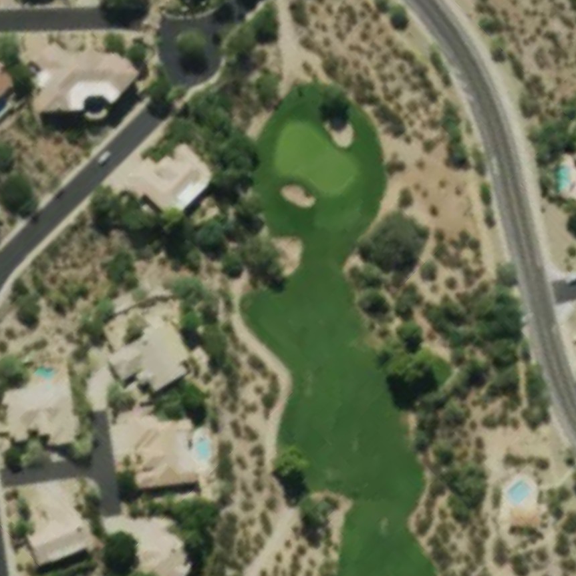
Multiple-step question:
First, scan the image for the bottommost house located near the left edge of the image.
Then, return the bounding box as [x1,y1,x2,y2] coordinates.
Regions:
[26,481,95,563]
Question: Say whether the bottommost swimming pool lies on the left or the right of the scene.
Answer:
right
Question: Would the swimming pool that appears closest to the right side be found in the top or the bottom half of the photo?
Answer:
top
